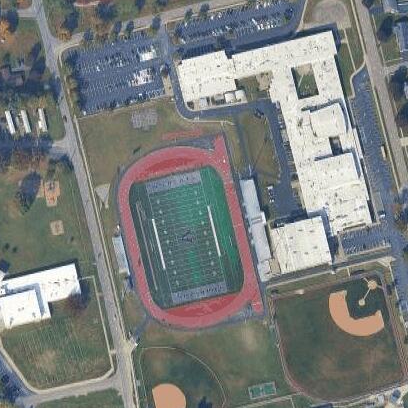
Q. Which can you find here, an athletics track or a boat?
athletics track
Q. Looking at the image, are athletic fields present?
Yes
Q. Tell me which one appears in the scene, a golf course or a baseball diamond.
baseball diamond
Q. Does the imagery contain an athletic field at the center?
Yes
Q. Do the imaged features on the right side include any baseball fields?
Yes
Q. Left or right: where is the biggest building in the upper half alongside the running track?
right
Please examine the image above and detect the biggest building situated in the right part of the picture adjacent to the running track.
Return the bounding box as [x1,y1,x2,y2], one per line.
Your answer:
[178,30,372,276]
